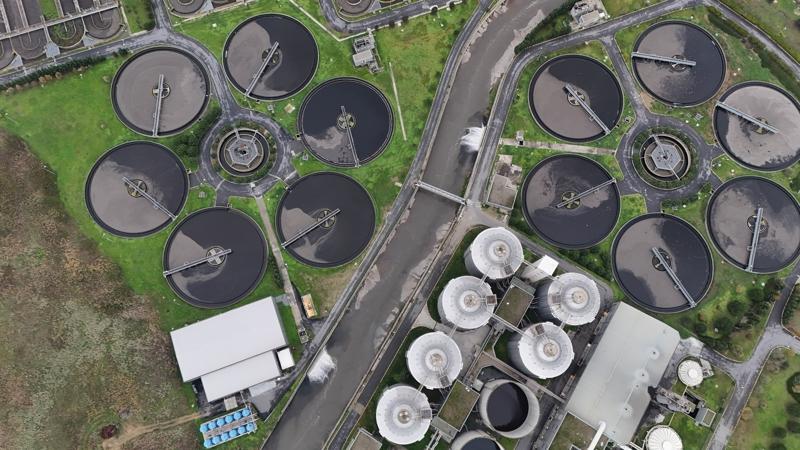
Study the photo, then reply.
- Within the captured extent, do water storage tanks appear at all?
Yes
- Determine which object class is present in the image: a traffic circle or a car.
traffic circle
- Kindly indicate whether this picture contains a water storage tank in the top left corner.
Yes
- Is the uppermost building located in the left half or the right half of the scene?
right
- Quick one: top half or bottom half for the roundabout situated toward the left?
top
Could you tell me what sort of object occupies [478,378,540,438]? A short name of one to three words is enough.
storage tank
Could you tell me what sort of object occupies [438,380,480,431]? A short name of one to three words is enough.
building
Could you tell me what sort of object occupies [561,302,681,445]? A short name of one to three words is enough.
building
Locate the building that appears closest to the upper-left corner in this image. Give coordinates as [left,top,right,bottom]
[352,31,384,74]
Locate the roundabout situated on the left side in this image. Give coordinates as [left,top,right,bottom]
[199,114,288,196]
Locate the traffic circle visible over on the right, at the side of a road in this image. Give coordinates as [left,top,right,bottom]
[623,120,709,202]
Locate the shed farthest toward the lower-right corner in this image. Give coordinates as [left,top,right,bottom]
[692,407,716,427]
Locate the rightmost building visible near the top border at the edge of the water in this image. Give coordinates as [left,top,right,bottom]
[570,0,609,30]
